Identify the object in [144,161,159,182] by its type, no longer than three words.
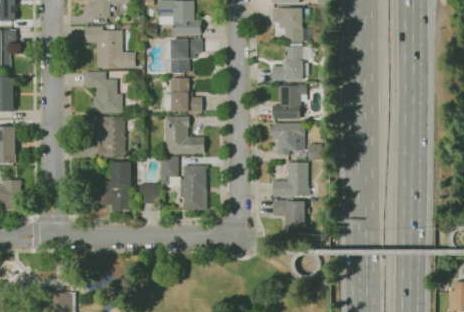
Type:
swimming pool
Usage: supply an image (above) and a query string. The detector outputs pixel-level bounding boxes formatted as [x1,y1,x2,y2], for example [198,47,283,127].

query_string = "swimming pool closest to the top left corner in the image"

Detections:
[149,45,163,71]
